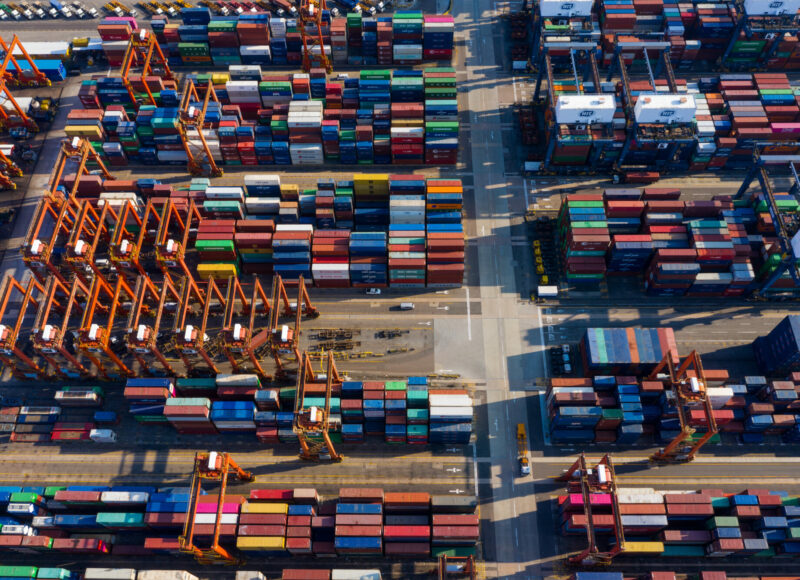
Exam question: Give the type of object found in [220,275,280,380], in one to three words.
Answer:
container crane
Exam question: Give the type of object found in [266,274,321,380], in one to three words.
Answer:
container crane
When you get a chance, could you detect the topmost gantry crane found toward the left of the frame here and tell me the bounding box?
[298,0,334,67]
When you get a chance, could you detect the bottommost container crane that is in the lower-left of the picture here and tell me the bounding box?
[177,450,252,567]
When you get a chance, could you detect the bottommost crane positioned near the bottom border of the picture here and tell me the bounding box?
[430,556,478,580]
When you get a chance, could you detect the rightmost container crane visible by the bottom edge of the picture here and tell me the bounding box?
[557,454,624,570]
